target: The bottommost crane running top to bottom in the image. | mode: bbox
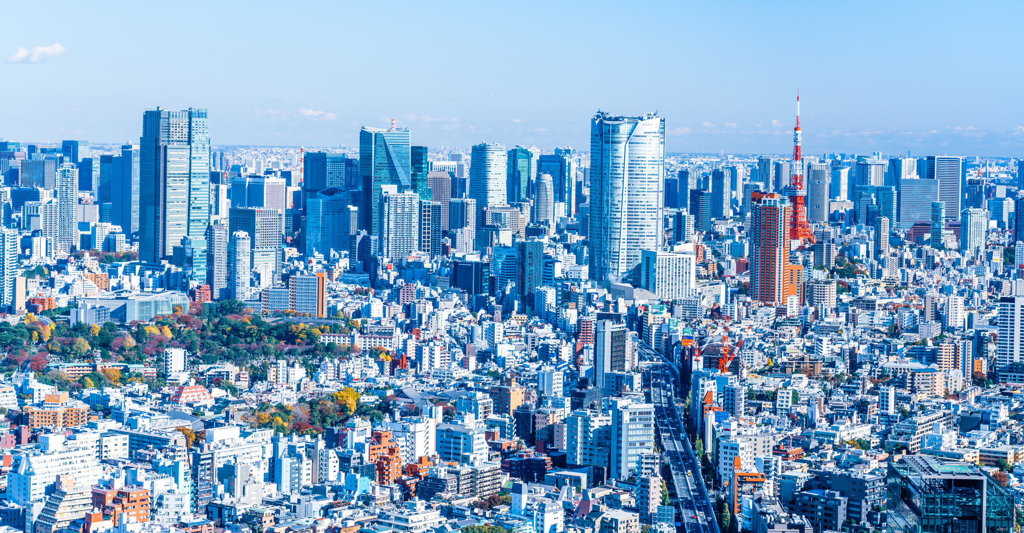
[709,315,733,373]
